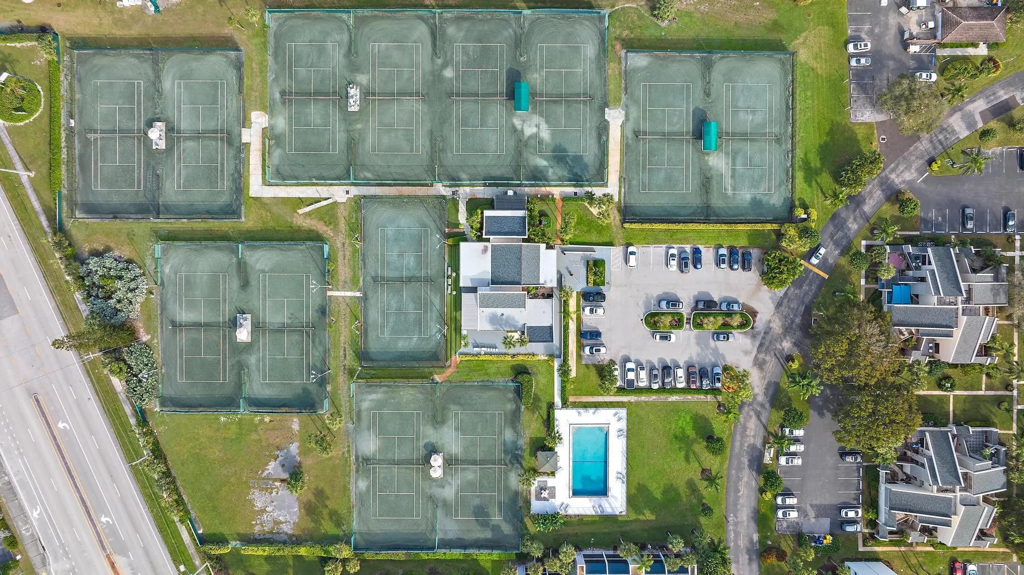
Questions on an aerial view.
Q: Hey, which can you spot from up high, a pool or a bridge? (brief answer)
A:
pool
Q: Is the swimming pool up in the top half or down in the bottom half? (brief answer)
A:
bottom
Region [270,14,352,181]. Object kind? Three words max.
tennis court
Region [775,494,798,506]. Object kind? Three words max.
vehicle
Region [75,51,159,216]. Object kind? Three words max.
tennis court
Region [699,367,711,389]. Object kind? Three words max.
vehicle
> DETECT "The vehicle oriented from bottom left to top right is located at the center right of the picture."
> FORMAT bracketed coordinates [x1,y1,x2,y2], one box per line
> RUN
[808,244,827,266]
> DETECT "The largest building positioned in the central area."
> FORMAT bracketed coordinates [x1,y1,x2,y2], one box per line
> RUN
[460,195,557,343]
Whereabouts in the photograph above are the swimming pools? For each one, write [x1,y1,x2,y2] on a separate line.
[531,408,627,515]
